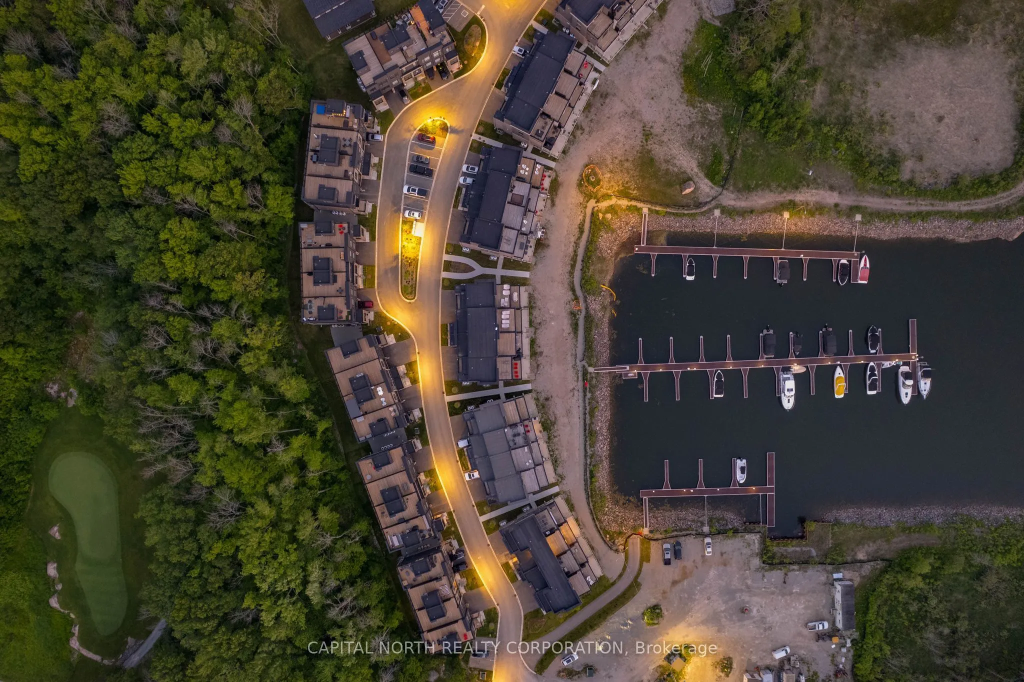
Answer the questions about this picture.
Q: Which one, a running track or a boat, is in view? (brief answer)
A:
boat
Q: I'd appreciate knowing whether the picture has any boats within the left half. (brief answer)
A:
No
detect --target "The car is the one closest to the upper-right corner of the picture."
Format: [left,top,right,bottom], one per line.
[512,44,530,56]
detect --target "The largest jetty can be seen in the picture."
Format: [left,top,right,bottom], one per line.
[616,319,918,401]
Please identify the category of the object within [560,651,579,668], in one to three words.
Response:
car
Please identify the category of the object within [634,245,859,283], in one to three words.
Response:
pier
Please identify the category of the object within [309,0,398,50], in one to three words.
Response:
house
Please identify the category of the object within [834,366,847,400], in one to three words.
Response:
boat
